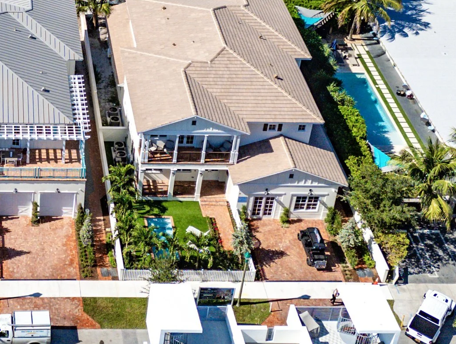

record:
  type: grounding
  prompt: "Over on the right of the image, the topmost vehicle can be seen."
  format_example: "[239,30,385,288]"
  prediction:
[291,226,338,278]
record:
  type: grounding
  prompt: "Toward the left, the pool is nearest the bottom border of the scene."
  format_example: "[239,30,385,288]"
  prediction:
[144,215,182,260]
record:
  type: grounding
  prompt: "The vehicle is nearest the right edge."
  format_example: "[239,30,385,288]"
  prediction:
[402,294,453,344]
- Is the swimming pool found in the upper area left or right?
right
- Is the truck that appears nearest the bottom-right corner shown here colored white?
Yes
